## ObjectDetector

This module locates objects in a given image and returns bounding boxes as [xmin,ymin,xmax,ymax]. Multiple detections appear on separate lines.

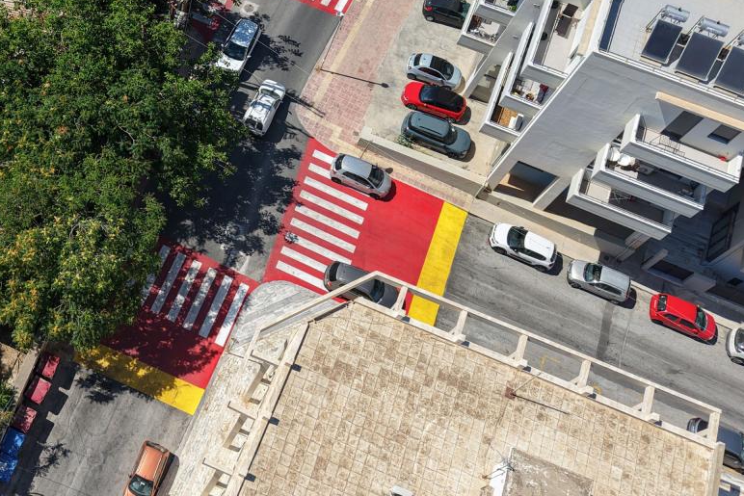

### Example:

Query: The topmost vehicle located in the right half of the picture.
[421,0,472,28]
